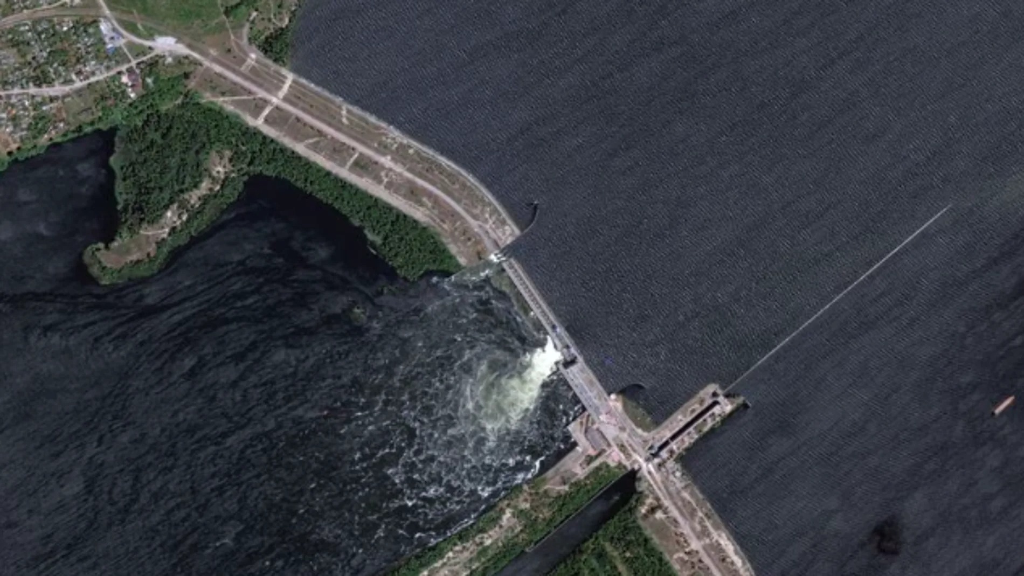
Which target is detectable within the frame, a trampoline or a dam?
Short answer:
dam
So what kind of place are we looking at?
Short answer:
port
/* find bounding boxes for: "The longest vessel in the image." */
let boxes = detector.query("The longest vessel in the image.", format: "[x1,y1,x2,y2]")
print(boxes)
[994,397,1014,416]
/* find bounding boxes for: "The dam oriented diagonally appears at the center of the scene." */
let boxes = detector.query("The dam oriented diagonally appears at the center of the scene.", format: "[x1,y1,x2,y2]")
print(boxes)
[502,256,581,359]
